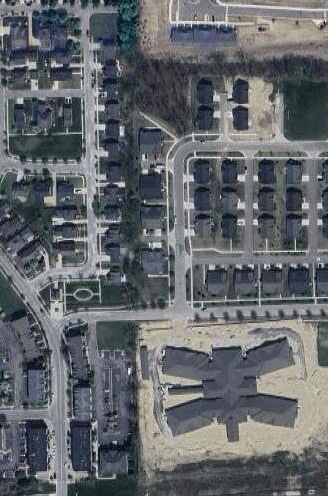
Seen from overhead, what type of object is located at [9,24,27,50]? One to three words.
house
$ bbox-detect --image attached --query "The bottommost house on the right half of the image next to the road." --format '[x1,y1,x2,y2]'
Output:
[161,337,299,441]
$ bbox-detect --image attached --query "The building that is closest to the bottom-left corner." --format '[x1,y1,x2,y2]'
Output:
[25,427,47,472]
